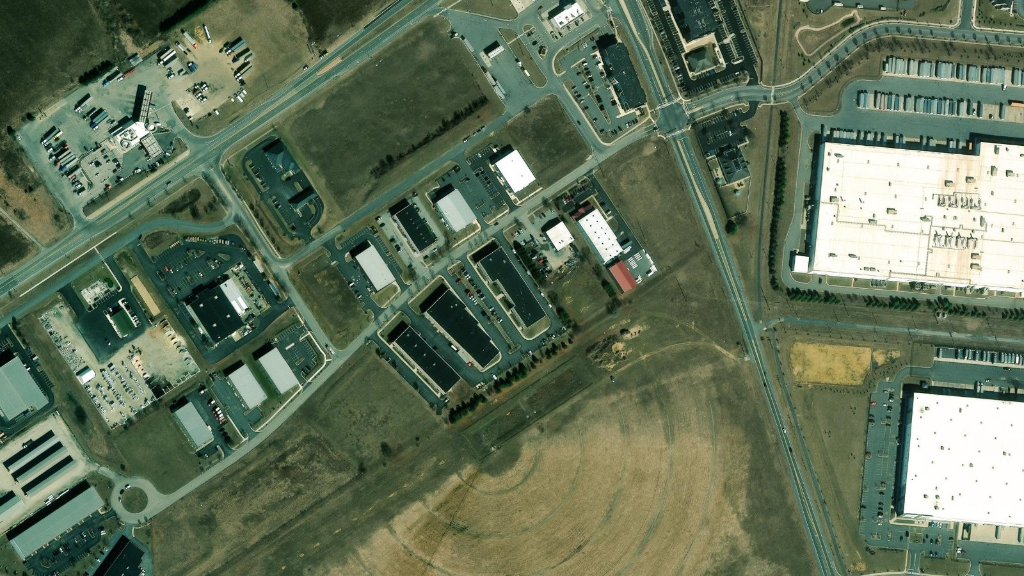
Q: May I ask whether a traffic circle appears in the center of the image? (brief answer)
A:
No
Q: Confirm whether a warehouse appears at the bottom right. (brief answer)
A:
Yes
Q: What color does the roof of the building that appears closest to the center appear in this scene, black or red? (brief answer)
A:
black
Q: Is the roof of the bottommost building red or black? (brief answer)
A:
black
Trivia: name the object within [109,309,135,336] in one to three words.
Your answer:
shed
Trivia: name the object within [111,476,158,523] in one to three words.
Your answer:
roundabout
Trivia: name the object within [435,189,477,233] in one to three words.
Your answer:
building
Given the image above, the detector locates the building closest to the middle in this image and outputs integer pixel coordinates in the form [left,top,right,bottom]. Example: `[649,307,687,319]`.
[476,247,547,330]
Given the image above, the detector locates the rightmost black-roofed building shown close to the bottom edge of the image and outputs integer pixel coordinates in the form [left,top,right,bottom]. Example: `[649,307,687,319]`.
[103,542,145,576]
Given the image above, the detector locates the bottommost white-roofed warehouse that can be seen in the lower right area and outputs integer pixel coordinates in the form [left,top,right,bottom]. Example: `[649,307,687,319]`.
[899,392,1024,527]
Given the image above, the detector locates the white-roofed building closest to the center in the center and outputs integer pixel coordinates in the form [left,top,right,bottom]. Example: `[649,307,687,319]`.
[544,221,574,252]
